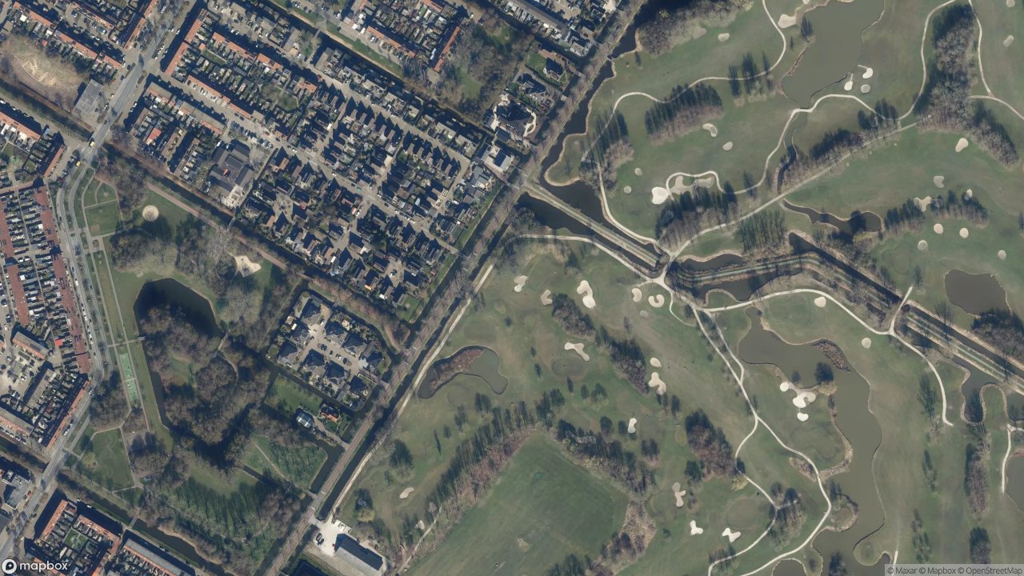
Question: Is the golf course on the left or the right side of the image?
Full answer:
You can find the golf course on the right side of the picture.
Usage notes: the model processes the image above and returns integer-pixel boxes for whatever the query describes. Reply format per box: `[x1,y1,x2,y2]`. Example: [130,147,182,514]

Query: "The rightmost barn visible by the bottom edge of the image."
[336,540,383,576]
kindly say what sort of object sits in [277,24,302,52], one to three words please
house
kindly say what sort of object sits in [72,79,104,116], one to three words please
building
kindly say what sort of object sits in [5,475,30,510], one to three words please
building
